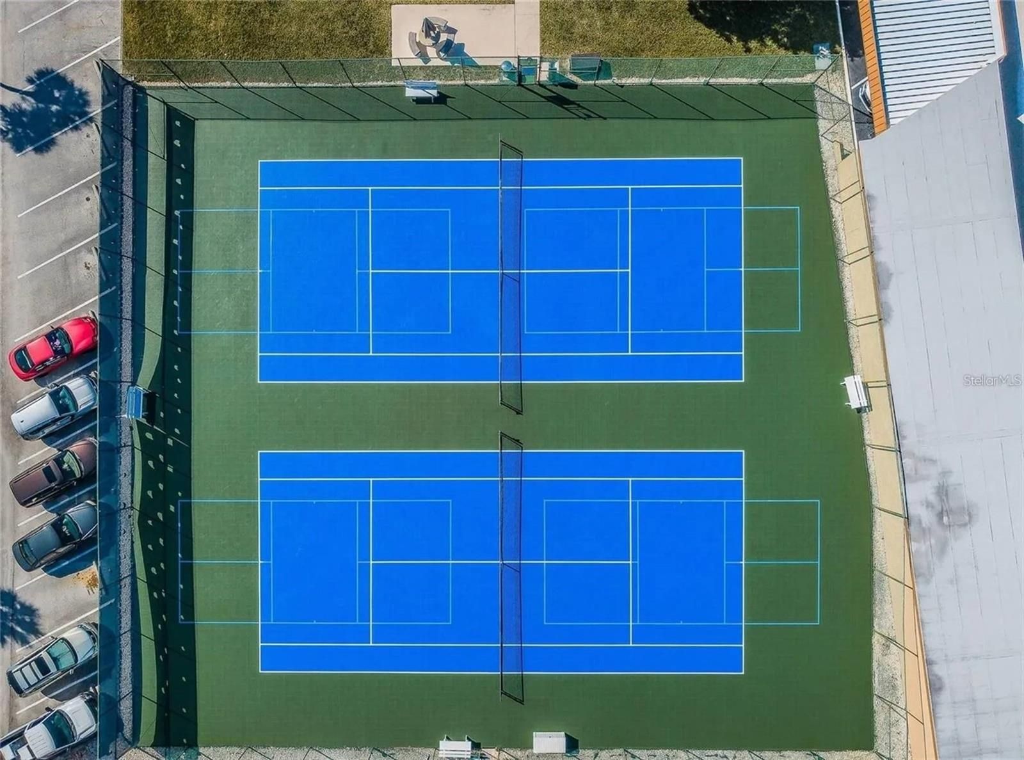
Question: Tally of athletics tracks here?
0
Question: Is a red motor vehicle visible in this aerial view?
Yes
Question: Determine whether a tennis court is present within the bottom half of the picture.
Yes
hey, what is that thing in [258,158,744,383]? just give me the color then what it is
blue tennis court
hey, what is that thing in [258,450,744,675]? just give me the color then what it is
blue tennis court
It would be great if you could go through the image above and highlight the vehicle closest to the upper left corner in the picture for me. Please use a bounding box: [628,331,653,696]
[8,315,99,381]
